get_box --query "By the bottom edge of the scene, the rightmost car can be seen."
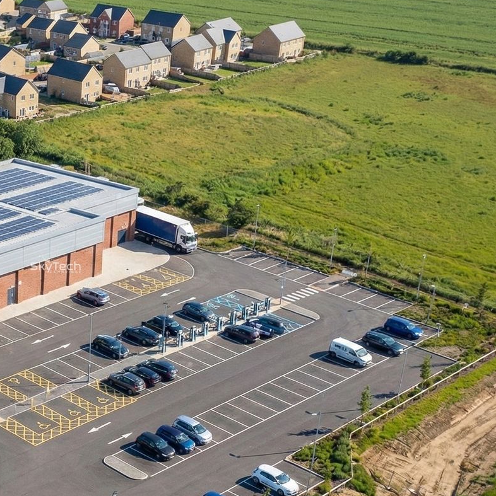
[252,463,298,492]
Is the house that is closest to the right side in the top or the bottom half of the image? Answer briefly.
top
